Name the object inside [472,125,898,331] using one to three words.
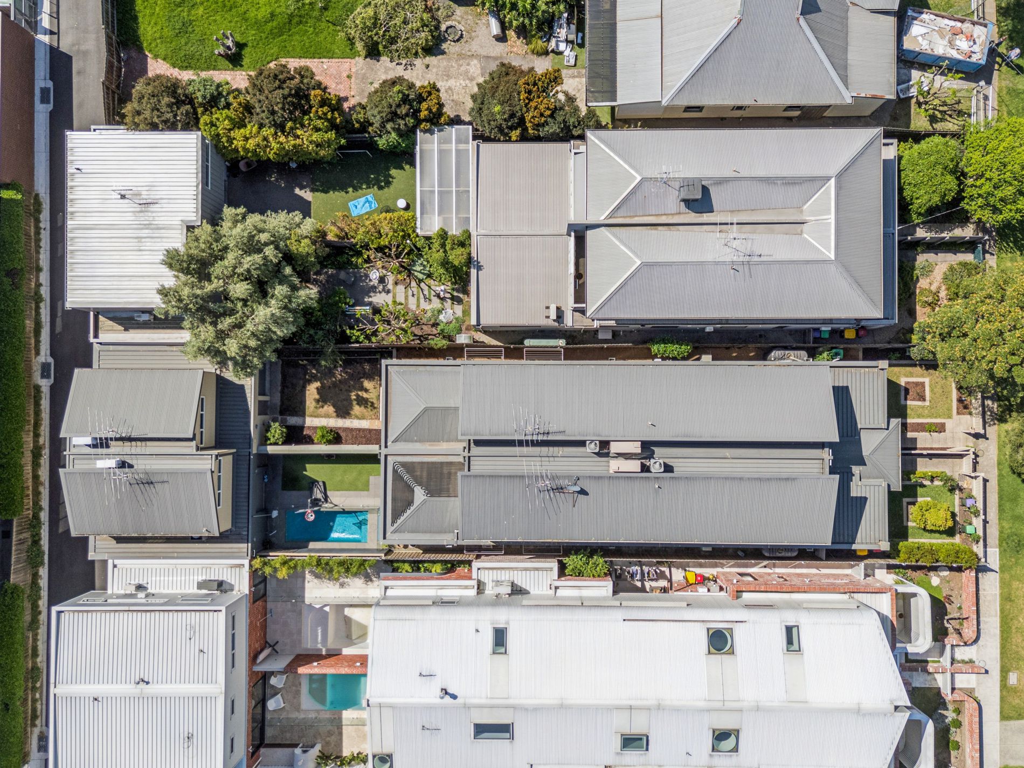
house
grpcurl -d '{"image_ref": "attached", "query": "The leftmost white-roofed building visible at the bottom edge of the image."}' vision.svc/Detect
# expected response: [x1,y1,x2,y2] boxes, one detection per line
[50,553,267,768]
